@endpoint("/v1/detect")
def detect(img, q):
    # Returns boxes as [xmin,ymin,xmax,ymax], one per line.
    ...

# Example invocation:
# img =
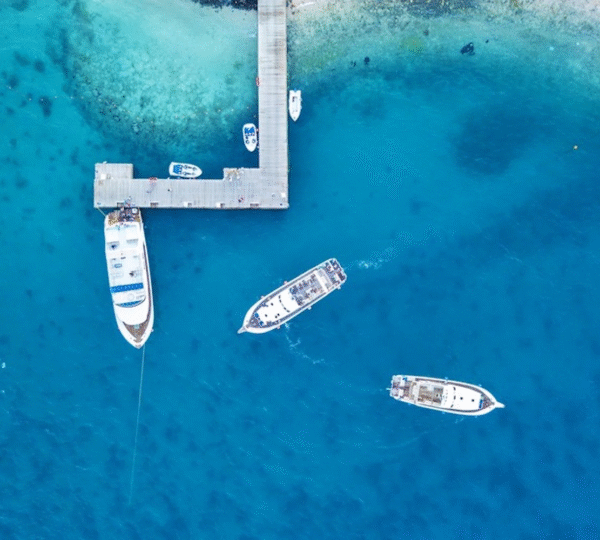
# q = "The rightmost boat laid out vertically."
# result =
[289,88,302,122]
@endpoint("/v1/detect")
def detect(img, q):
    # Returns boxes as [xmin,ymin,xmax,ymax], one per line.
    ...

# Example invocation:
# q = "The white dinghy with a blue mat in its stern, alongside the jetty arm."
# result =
[168,162,203,179]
